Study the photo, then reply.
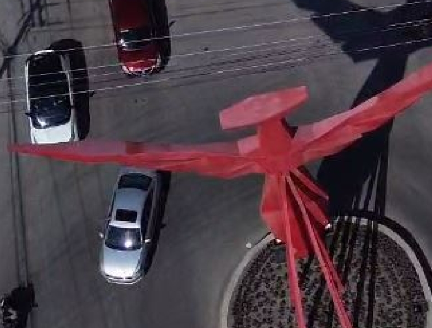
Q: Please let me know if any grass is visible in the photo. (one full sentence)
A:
No, there is no grass in the image.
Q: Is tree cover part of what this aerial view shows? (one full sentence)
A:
No, there is no tree cover in the image.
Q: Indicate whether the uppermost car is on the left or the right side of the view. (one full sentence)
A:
The uppermost car is on the left side of the image.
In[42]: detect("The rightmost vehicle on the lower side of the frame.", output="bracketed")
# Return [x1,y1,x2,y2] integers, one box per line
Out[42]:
[97,173,159,286]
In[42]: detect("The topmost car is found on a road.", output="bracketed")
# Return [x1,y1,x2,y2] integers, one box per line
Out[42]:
[108,0,164,80]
